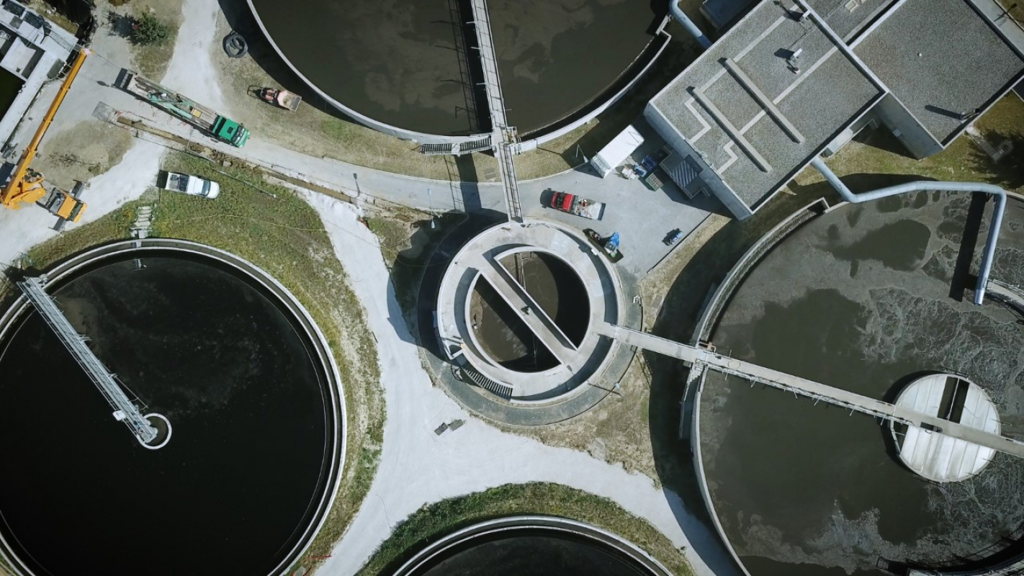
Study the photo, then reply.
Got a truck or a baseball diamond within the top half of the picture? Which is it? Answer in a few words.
truck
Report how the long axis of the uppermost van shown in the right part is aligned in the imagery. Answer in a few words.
diagonally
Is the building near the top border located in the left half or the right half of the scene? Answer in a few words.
right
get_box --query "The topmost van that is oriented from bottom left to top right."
[590,120,646,178]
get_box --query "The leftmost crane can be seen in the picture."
[0,48,126,236]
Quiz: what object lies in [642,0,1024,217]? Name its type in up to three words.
building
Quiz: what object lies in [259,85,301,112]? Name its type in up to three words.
truck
